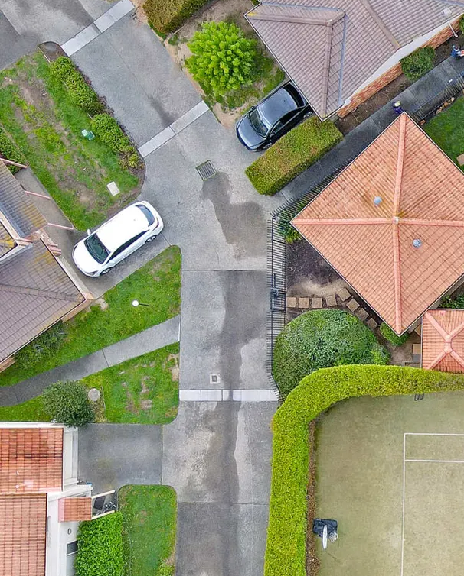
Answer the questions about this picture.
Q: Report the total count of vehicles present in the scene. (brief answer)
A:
two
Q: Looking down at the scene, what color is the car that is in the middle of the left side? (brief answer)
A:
white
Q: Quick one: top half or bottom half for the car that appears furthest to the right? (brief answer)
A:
top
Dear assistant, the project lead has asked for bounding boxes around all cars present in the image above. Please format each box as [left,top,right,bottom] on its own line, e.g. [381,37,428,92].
[231,80,316,151]
[72,201,165,272]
